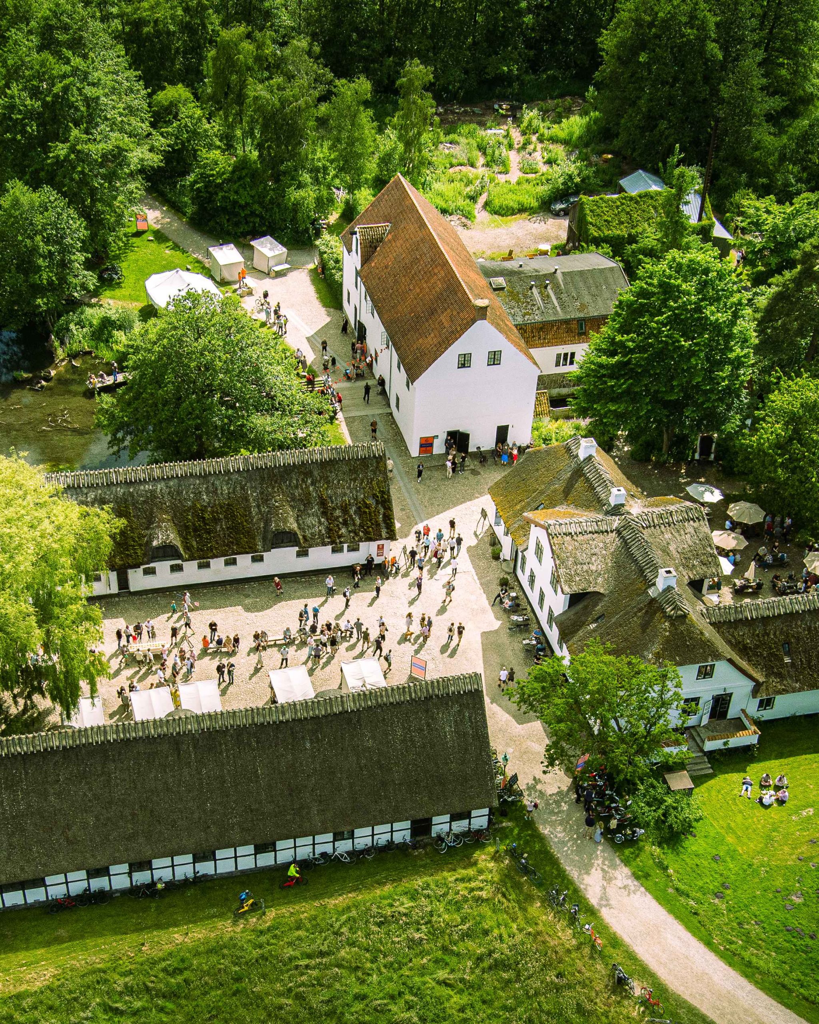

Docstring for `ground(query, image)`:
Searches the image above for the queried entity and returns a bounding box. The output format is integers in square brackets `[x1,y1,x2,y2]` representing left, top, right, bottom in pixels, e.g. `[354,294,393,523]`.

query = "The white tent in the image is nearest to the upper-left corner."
[141,273,233,323]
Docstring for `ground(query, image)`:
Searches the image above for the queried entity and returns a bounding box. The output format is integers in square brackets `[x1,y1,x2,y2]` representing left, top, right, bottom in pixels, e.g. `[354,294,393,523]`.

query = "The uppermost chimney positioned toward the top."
[473,288,492,322]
